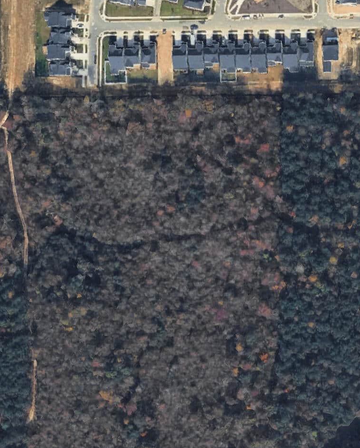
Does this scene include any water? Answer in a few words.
No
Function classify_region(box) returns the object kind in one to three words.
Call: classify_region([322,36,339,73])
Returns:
house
